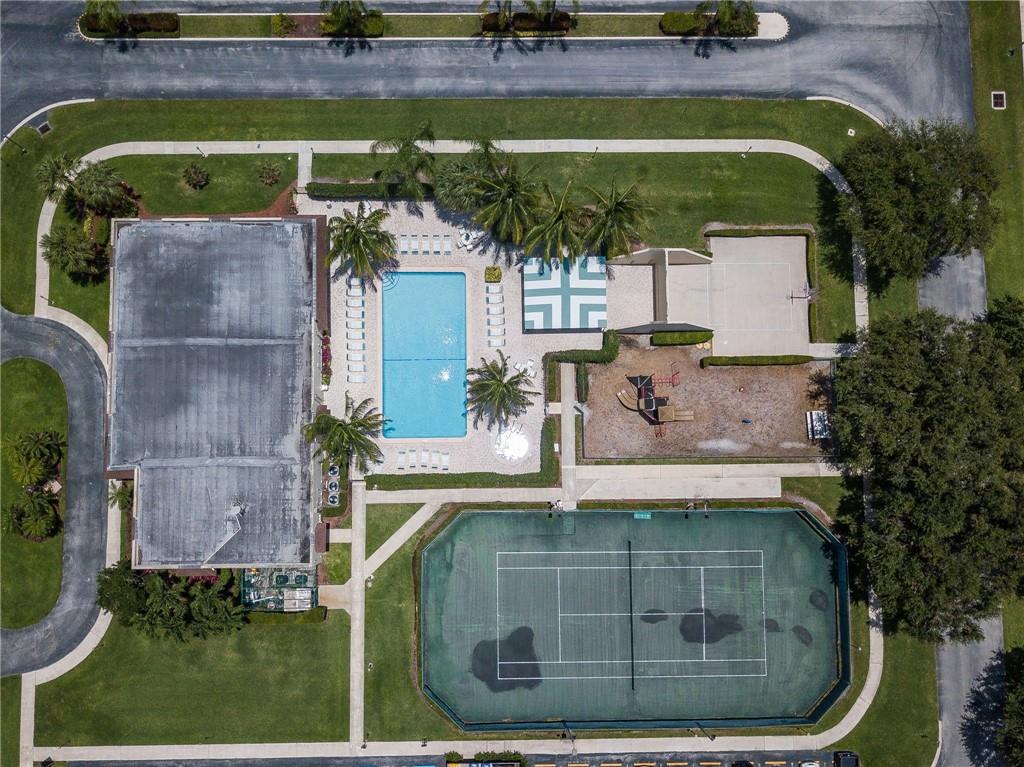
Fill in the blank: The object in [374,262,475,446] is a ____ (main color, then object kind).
blue swimming pool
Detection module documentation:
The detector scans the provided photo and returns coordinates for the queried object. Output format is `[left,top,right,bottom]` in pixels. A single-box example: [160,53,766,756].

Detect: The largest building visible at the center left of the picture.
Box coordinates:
[104,215,330,576]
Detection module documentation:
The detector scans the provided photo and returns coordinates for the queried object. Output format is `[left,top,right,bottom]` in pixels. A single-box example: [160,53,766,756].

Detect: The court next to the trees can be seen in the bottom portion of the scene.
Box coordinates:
[425,507,840,718]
